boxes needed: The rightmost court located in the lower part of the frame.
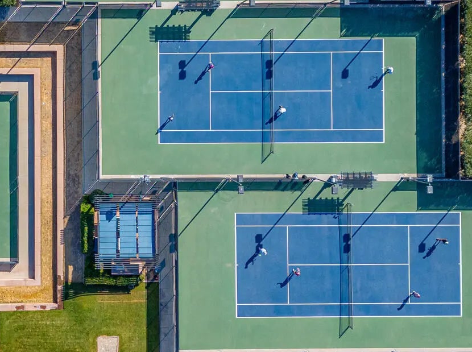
[175,179,472,352]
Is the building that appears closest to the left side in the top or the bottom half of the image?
bottom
